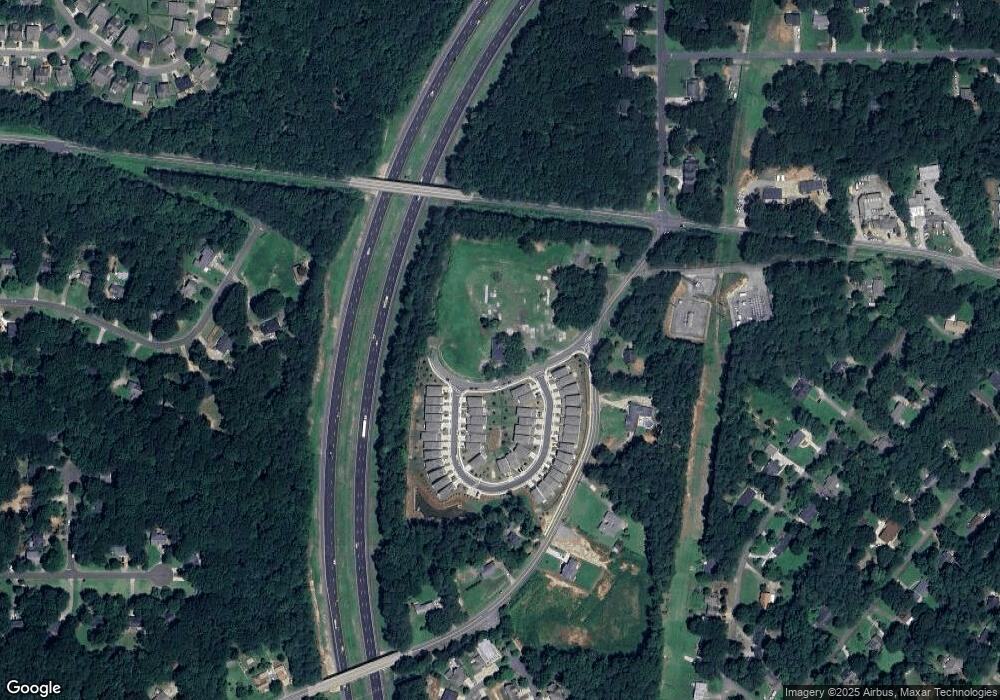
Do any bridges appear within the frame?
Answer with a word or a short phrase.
Yes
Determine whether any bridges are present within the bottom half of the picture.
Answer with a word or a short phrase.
Yes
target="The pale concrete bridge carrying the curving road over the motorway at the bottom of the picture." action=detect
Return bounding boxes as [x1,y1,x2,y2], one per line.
[303,650,405,697]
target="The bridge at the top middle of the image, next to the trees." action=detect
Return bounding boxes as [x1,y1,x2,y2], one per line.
[349,177,473,201]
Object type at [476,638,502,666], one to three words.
house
